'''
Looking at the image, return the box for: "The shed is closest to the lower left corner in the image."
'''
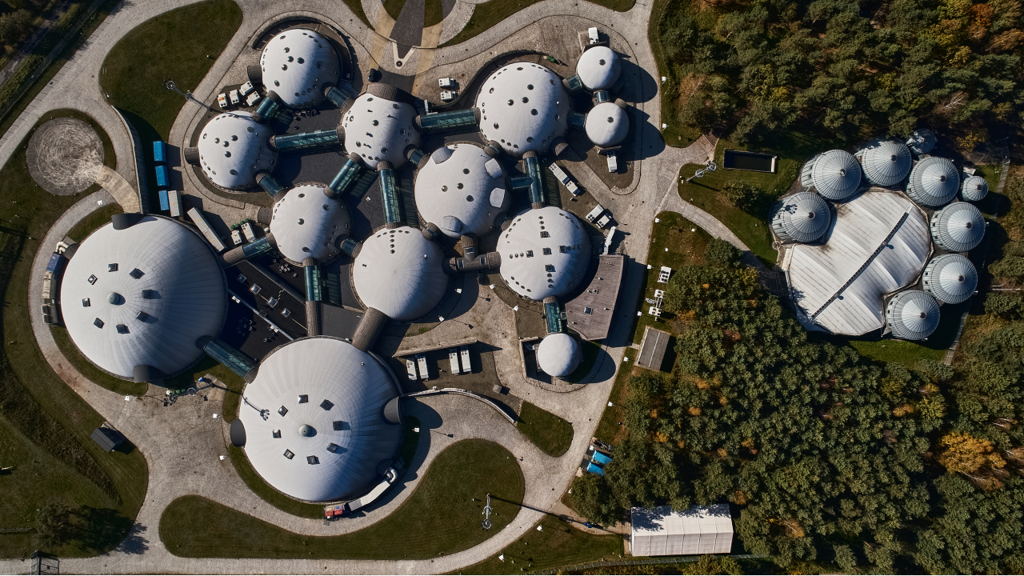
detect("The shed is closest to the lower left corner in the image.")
[90,424,122,452]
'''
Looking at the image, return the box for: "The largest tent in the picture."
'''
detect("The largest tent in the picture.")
[627,502,733,556]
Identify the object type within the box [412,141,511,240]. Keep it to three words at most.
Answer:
building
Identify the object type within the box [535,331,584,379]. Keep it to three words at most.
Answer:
building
